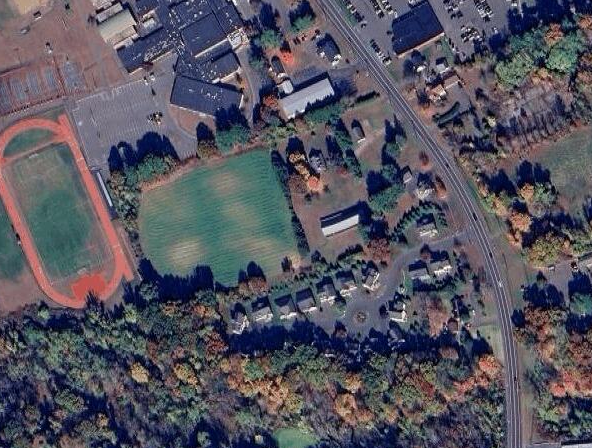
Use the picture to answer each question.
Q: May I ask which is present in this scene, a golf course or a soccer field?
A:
soccer field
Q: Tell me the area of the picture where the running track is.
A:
left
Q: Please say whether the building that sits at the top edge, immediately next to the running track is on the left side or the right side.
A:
left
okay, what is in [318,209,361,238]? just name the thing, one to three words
barn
